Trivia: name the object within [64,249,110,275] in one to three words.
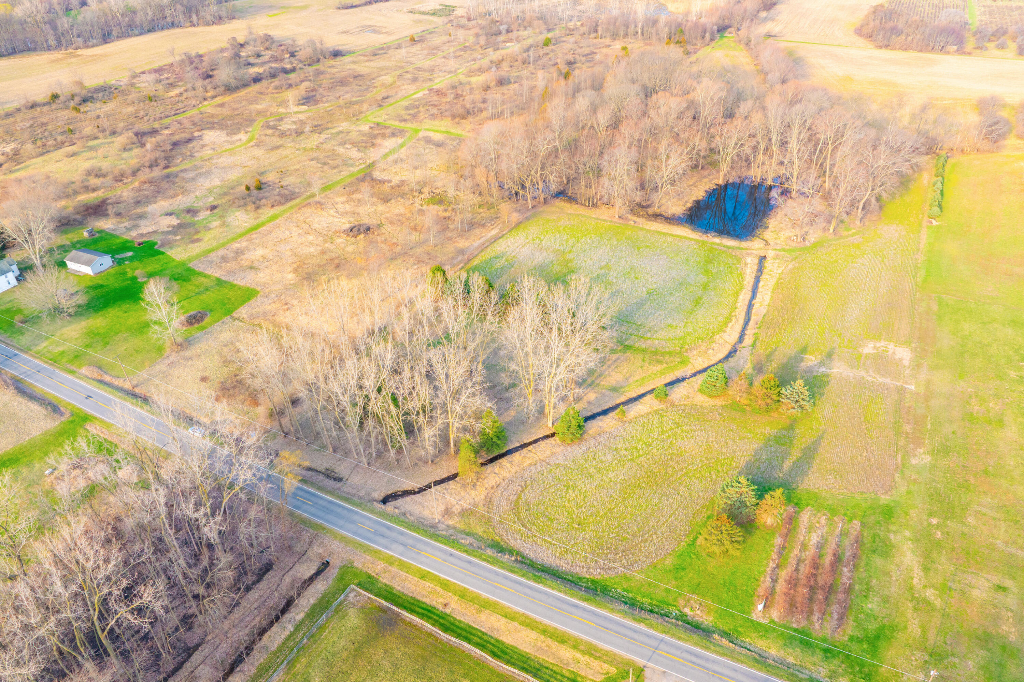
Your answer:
building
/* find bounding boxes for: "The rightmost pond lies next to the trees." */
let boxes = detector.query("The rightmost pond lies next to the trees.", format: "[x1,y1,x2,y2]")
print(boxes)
[680,176,779,241]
